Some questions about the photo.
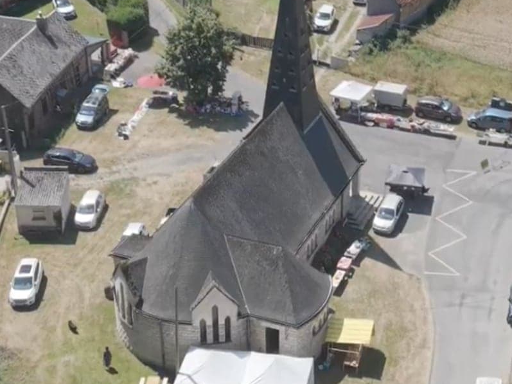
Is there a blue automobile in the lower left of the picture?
No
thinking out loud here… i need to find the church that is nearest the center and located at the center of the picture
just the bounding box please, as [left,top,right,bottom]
[105,0,387,371]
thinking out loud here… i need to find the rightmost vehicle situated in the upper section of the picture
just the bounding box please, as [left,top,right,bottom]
[469,106,512,133]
